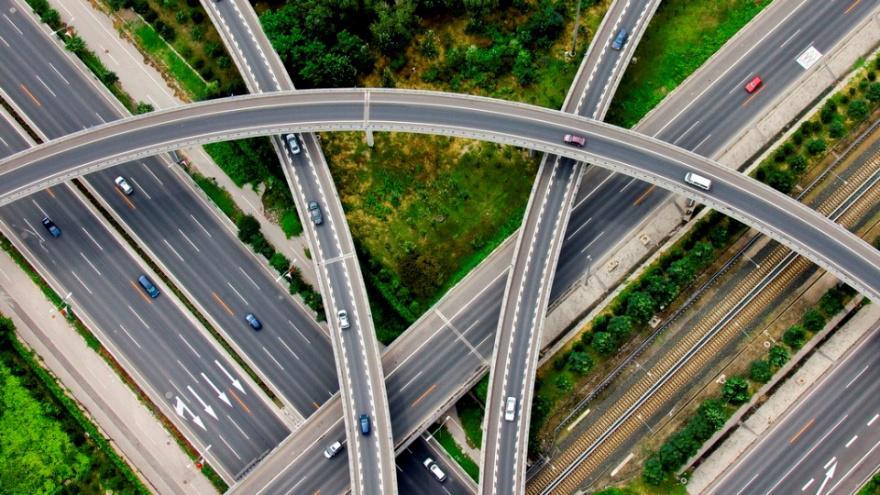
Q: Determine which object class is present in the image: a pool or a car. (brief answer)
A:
car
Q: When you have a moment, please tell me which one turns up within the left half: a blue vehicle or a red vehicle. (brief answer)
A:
blue vehicle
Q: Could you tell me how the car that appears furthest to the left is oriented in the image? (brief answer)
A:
diagonally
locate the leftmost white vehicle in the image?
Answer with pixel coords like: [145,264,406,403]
[114,176,135,196]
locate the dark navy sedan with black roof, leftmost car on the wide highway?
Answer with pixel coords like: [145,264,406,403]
[41,217,61,239]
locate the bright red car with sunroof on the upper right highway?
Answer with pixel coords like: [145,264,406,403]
[744,76,763,94]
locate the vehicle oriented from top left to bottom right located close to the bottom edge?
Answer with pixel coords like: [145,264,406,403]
[423,458,444,480]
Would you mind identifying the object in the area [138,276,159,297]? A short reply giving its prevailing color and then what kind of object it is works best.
blue car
